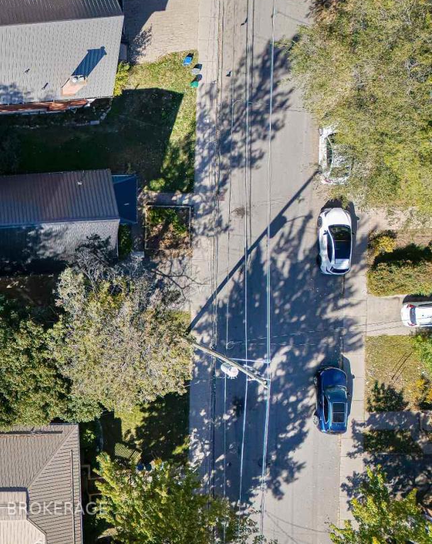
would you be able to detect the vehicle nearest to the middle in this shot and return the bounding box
[316,208,356,274]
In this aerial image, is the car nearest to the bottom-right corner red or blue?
blue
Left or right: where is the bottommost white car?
right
